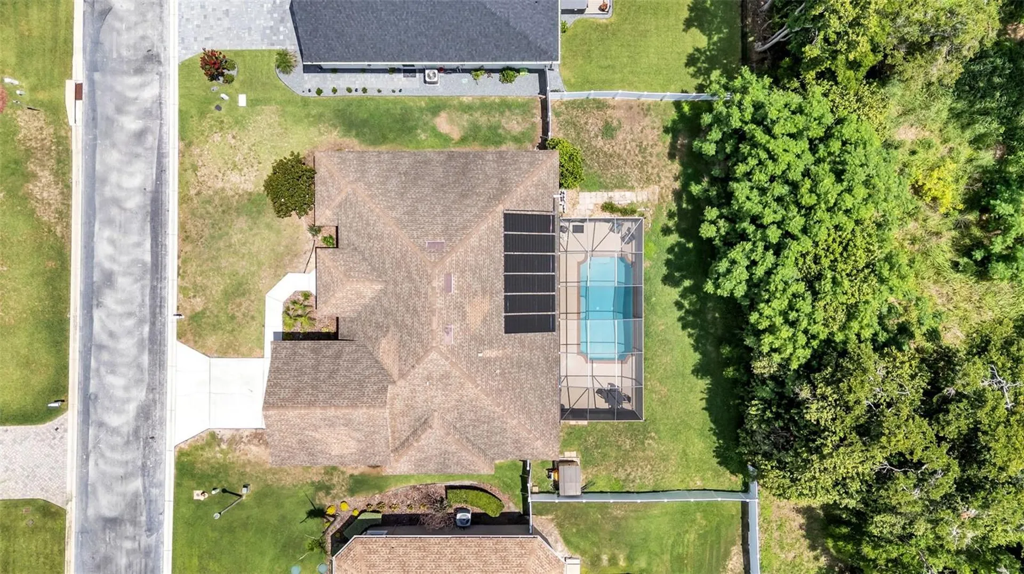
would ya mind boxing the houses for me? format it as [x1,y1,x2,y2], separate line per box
[262,149,563,475]
[331,528,580,574]
[291,0,560,69]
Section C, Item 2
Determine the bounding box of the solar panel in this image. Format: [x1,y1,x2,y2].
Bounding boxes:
[503,198,555,334]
